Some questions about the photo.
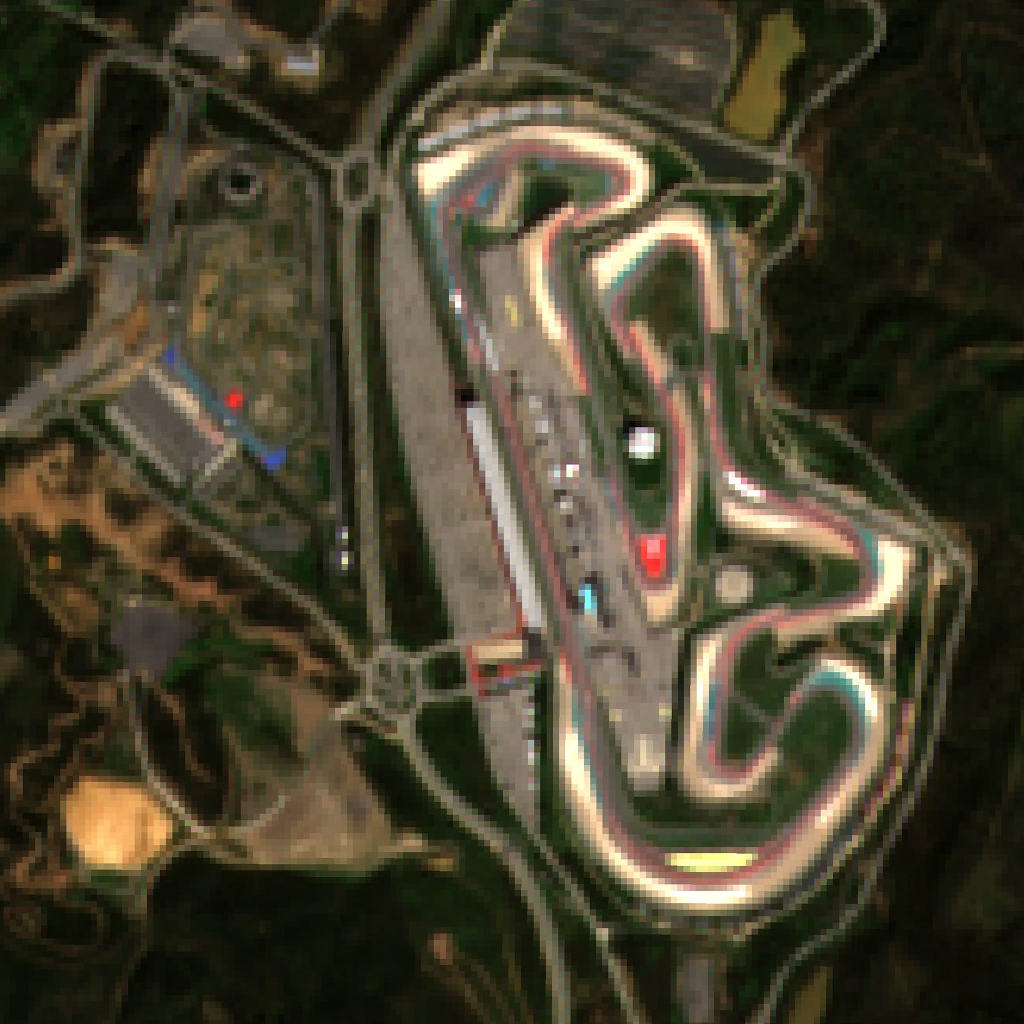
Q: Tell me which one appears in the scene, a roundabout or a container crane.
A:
roundabout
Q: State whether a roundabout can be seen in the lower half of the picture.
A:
Yes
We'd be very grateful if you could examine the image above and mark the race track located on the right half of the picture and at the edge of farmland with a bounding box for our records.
[444,145,872,883]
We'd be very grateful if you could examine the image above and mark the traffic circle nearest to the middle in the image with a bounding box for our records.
[366,648,421,715]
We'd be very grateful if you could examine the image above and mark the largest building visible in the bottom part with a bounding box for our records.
[472,643,536,686]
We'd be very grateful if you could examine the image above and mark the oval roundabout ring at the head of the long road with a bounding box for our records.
[335,149,377,208]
